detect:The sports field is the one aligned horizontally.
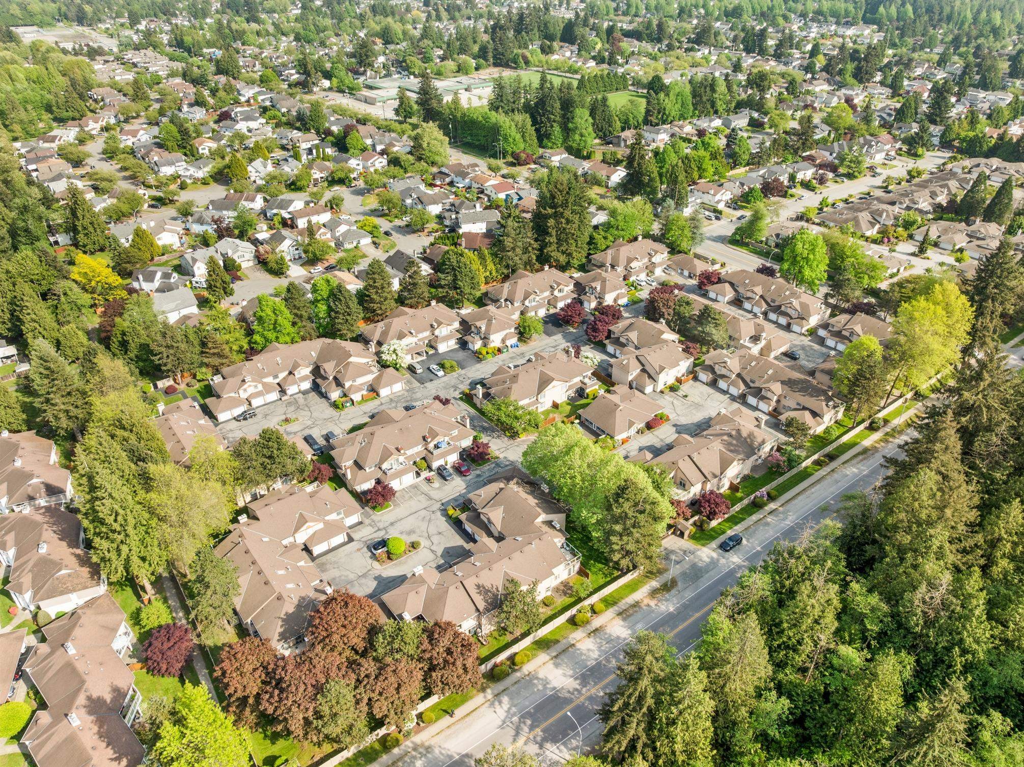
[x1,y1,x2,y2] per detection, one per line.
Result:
[19,26,114,52]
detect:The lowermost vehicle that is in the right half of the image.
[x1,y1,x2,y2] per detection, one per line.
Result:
[718,530,745,553]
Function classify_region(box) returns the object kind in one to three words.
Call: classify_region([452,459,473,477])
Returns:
car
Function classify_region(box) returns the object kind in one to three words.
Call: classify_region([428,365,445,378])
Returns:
vehicle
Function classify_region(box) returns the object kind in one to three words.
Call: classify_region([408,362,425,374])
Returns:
vehicle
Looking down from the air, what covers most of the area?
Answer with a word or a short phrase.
trees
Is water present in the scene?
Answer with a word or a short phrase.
No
